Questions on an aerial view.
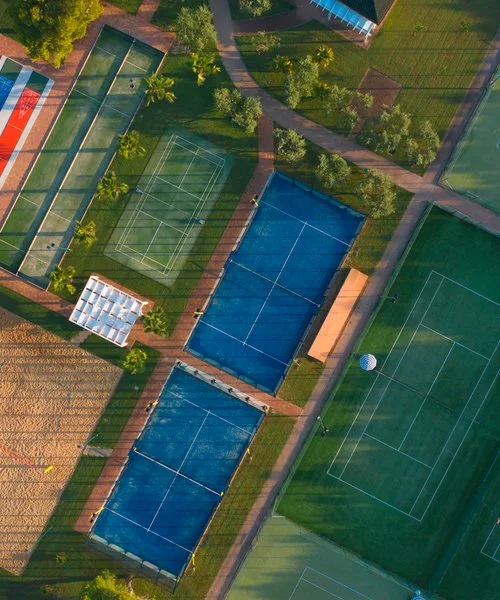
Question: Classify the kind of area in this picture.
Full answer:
It's a sports ground.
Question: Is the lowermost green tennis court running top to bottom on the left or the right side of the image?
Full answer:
You can find the lowermost green tennis court running top to bottom on the right side of the picture.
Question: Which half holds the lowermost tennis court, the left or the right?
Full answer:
You can find the lowermost tennis court on the right side of the picture.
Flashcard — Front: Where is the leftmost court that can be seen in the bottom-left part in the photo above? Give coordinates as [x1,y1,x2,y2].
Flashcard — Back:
[0,309,123,577]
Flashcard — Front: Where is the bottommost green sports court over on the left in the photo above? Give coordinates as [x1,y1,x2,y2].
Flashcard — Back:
[108,124,236,285]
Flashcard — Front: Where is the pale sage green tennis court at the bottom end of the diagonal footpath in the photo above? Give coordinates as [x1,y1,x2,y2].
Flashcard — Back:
[236,517,447,600]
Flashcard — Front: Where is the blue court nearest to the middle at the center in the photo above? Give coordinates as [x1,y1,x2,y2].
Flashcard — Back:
[183,169,367,394]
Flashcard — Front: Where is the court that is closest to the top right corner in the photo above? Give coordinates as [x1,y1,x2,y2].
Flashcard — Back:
[438,65,500,214]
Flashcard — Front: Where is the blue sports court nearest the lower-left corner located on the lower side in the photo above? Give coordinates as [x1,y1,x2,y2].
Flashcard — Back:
[87,359,270,584]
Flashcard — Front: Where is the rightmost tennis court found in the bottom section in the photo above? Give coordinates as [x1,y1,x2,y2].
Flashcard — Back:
[424,428,500,600]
